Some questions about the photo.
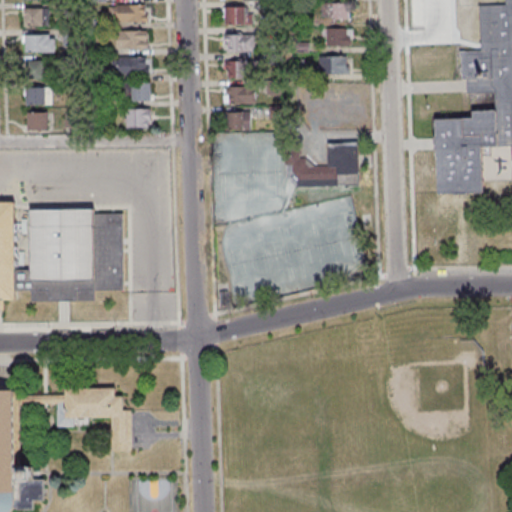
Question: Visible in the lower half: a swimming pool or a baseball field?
baseball field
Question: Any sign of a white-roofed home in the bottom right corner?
No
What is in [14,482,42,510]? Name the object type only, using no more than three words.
building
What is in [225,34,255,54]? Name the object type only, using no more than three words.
house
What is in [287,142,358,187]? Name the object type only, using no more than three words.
building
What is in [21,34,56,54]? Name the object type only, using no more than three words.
house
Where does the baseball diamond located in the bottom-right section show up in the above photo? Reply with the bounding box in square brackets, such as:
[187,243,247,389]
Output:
[390,352,476,439]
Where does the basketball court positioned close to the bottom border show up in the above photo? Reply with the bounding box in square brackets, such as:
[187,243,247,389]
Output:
[129,476,179,512]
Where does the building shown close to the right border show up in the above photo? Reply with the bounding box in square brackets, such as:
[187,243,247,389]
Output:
[434,0,512,193]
